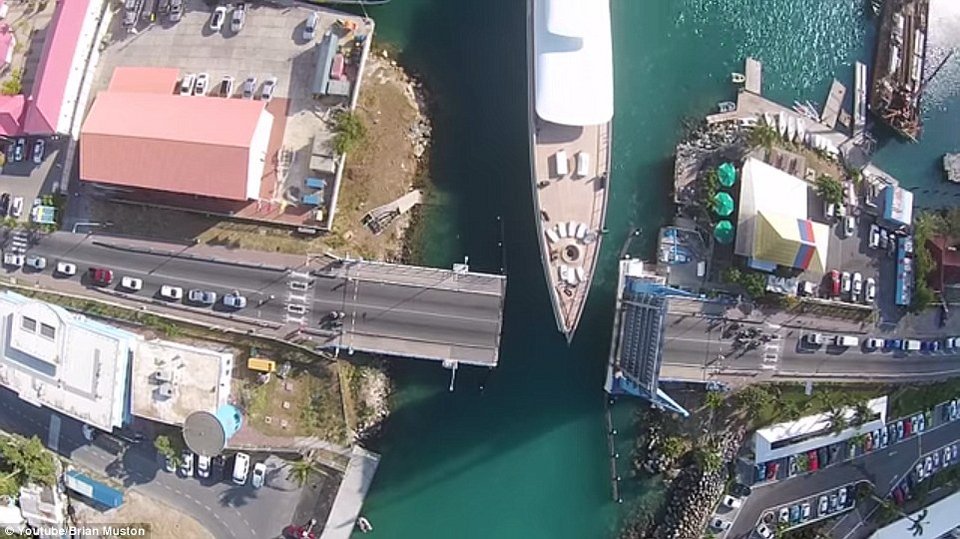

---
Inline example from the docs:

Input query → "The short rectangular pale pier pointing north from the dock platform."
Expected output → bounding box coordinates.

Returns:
[742,57,762,95]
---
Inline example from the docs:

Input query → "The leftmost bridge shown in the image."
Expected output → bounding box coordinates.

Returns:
[338,259,507,367]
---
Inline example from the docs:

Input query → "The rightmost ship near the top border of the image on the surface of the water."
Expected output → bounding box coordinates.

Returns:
[865,0,952,143]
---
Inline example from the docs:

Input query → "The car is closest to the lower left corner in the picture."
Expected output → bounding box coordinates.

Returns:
[81,424,98,442]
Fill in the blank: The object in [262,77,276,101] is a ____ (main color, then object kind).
white vehicle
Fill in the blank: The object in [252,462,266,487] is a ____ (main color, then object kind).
white car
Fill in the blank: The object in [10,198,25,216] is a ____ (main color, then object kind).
white car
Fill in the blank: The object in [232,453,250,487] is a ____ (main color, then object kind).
white vehicle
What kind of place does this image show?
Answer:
port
